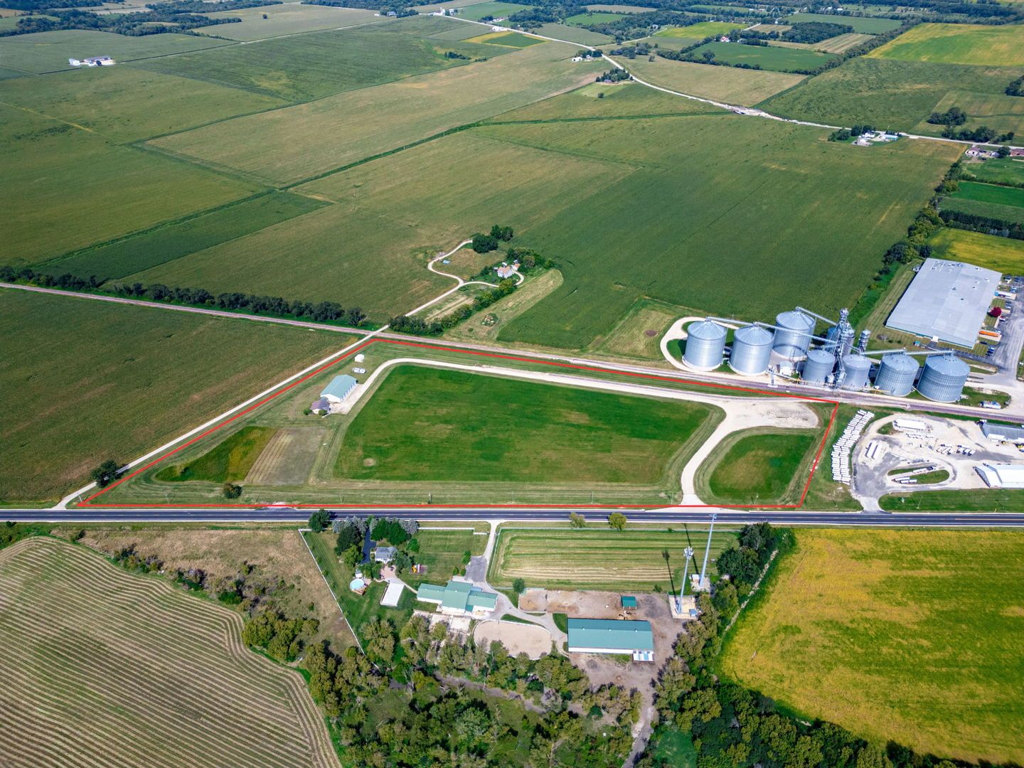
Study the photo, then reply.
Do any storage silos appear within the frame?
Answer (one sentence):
Yes, the image includes a storage silo.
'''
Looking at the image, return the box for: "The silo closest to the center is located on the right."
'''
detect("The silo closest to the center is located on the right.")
[681,319,727,368]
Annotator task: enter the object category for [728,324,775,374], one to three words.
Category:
silo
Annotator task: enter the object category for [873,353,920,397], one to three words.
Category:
silo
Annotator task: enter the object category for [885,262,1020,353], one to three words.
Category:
building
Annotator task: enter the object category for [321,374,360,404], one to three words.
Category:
barn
